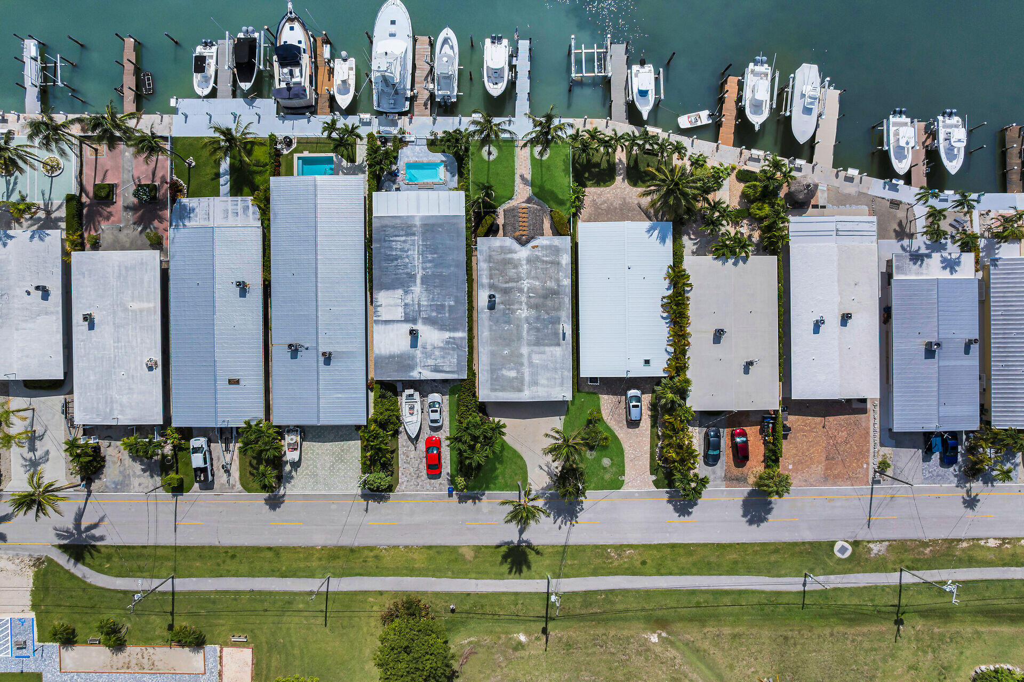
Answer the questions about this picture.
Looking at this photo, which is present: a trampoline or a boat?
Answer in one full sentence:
Visible in the photo is a boat.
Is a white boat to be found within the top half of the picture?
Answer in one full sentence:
Yes, there is a white boat within the top half of the picture.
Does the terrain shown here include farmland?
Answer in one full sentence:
No, farmland can't be seen anywhere here.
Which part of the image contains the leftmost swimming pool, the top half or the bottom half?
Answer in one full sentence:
Seen from above, the leftmost swimming pool lies in the top half of the view.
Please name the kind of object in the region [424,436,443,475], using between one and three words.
car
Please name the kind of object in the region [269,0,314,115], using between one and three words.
boat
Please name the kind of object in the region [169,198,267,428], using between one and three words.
house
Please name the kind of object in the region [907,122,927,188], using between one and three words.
pier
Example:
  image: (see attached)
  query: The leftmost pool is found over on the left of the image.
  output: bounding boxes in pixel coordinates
[294,153,337,176]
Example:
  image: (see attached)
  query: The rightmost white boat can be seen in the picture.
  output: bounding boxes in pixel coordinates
[936,109,992,175]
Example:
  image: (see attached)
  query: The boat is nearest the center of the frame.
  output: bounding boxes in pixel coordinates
[403,383,421,437]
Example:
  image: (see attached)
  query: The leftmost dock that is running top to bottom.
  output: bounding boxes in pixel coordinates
[24,39,47,114]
